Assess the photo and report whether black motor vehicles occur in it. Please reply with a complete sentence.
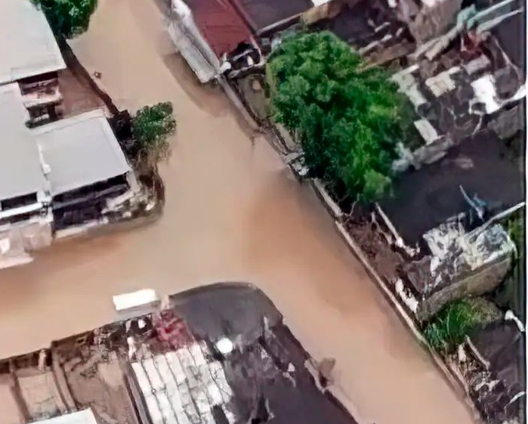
No, no black motor vehicle can be seen from above.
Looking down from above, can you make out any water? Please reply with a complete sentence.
Yes, water shows up in the scene.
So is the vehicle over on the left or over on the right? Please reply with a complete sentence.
It is on the left.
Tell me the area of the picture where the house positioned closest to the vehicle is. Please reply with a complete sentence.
The house positioned closest to the vehicle sits in the bottom section of the image.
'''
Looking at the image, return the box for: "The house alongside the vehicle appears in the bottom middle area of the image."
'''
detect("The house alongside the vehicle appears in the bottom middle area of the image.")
[171,282,283,389]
